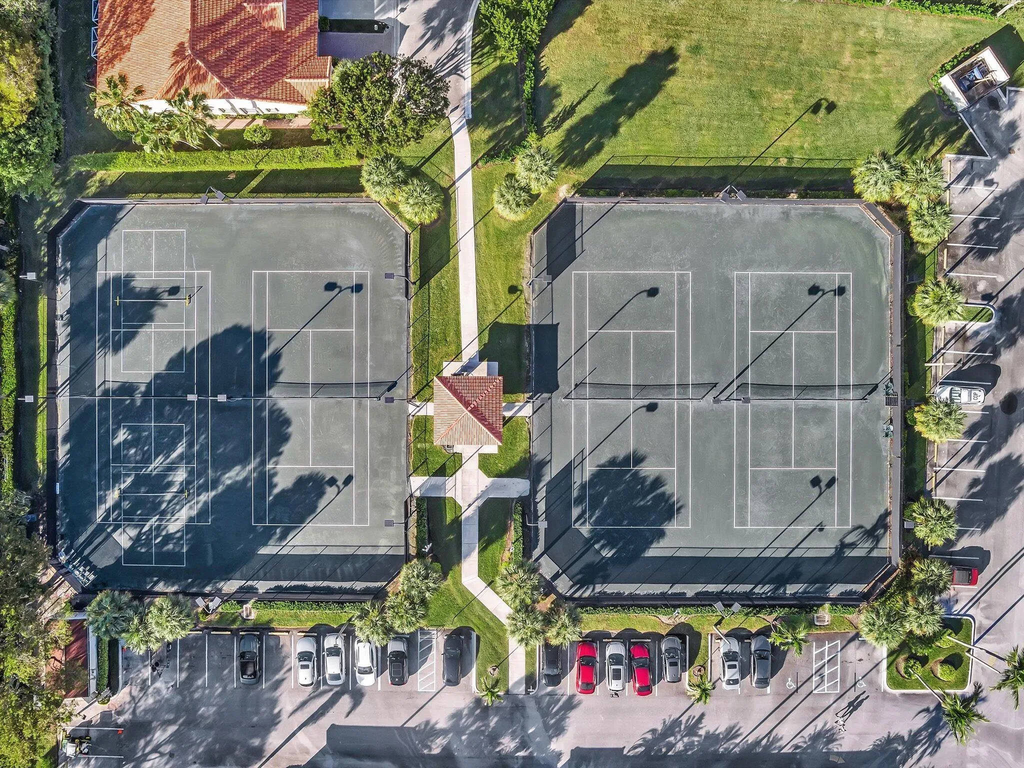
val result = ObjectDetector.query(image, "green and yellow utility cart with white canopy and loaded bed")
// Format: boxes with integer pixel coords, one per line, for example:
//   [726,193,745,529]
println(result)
[60,731,93,754]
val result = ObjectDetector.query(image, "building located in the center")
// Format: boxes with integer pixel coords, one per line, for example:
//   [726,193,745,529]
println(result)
[433,376,503,446]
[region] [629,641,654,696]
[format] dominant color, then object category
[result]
red car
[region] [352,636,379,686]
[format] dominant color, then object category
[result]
white car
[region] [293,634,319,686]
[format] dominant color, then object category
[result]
white car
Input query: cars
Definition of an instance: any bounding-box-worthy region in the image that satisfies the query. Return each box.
[352,636,379,686]
[942,564,977,589]
[659,634,685,682]
[384,635,411,685]
[629,641,654,696]
[293,634,319,686]
[321,631,348,684]
[236,630,262,684]
[932,382,984,406]
[574,640,600,694]
[540,632,565,686]
[440,632,464,685]
[718,635,743,689]
[603,640,629,692]
[748,633,774,688]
